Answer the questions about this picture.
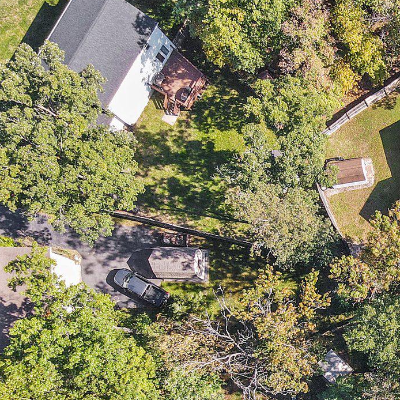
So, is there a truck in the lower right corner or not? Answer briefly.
No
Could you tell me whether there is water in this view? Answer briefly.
No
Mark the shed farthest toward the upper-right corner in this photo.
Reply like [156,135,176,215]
[325,157,370,193]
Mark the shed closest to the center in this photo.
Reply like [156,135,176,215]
[149,249,207,282]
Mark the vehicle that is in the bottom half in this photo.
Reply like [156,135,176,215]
[114,266,169,309]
